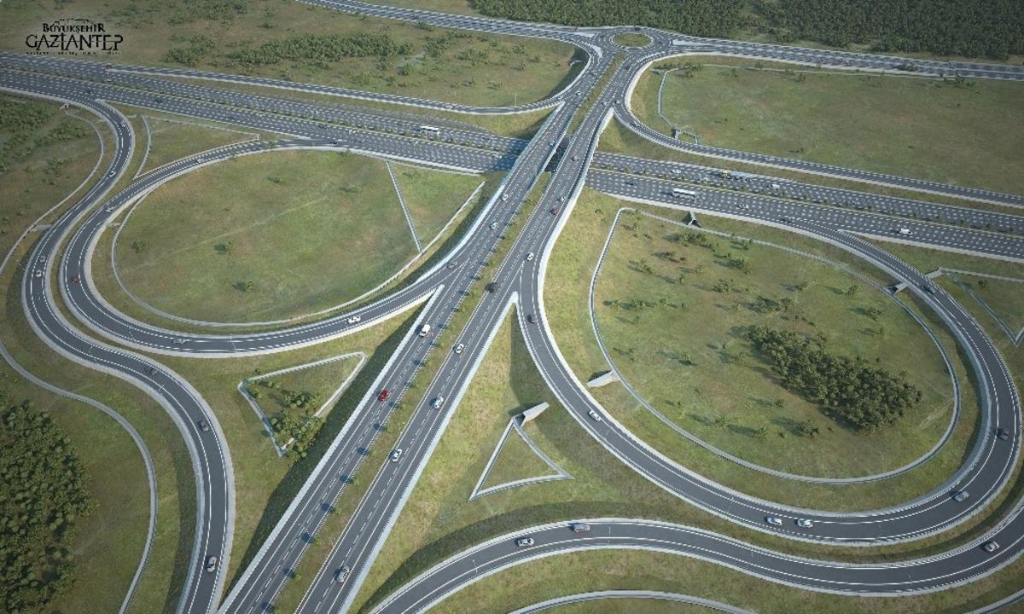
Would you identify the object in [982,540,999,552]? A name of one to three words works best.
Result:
vehicle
